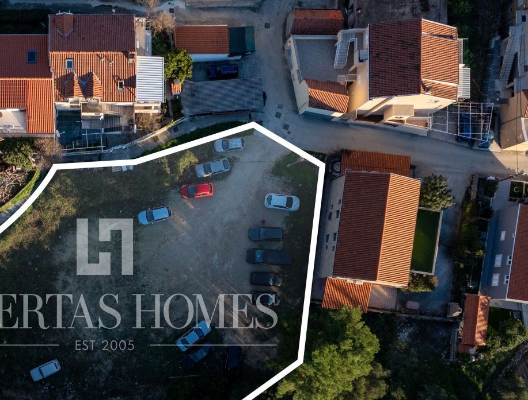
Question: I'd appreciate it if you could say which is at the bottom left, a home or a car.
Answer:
car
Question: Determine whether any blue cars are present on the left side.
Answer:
Yes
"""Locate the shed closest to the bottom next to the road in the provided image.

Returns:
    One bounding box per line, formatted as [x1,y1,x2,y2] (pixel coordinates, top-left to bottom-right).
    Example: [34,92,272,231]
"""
[452,293,491,354]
